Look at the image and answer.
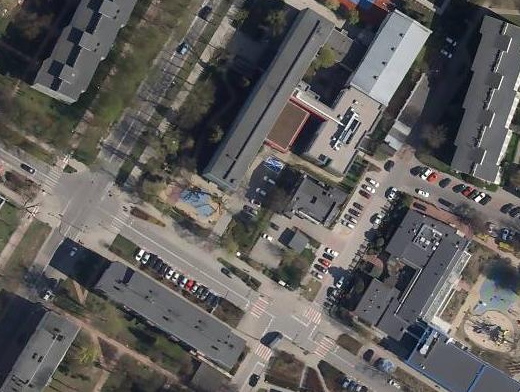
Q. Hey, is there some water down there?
No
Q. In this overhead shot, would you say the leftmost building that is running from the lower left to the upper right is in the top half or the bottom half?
bottom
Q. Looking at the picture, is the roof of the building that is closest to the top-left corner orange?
No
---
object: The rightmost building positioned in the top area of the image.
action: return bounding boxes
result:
[452,15,520,188]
